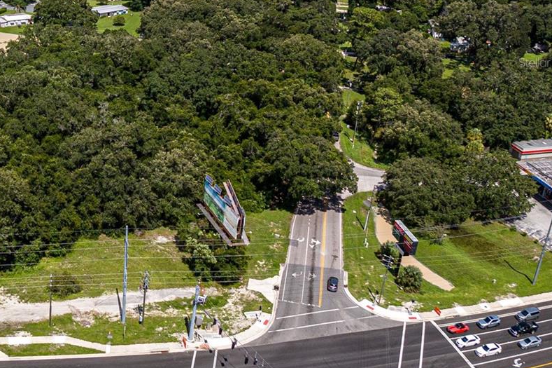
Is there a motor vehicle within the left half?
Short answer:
No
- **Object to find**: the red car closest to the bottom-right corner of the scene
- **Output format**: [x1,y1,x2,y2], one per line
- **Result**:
[446,323,471,336]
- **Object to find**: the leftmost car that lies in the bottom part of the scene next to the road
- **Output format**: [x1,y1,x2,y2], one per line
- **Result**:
[327,278,339,294]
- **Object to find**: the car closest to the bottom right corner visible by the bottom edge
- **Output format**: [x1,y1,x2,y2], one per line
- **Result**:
[518,336,542,350]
